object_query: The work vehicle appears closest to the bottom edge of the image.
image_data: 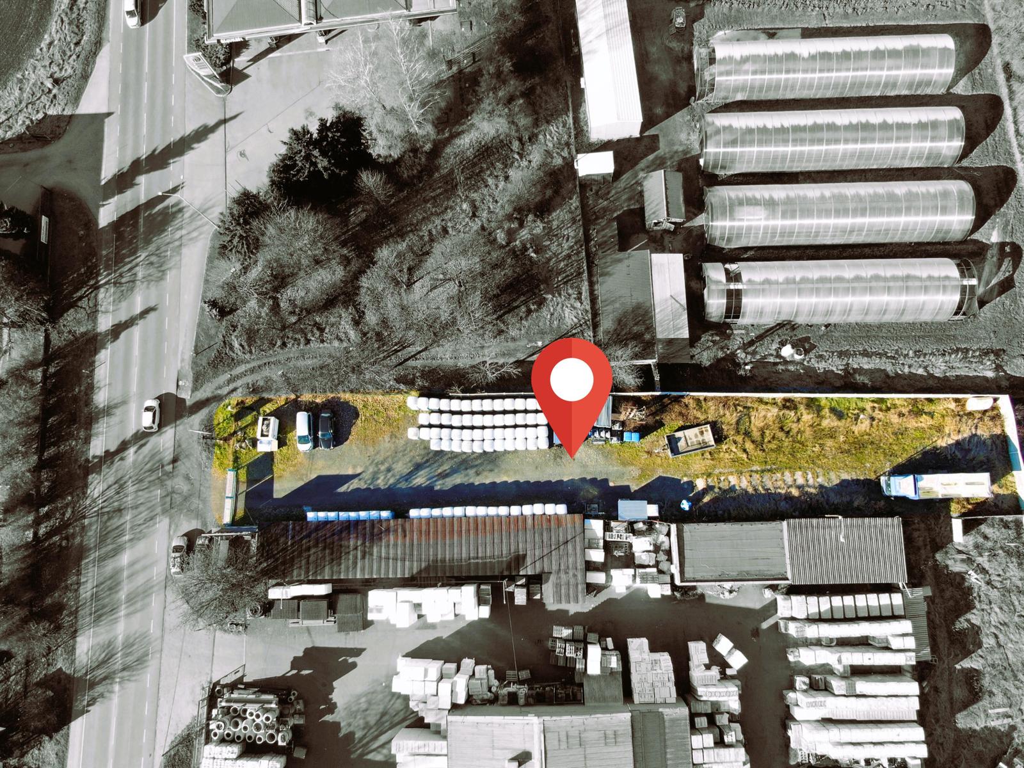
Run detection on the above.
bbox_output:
[710,658,728,674]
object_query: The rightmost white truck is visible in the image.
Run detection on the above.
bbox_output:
[872,472,991,498]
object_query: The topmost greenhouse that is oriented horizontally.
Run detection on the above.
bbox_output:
[695,36,963,101]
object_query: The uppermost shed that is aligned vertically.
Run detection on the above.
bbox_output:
[573,0,643,137]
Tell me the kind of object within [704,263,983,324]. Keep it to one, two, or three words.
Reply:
greenhouse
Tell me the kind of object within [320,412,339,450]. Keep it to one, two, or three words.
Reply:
car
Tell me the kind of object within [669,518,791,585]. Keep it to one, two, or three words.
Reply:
building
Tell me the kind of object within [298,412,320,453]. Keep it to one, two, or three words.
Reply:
vehicle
